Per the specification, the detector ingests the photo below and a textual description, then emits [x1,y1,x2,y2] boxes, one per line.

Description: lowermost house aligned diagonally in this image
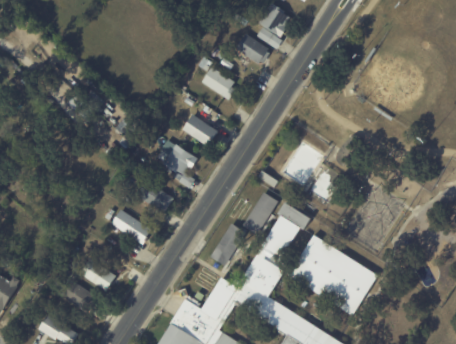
[40,316,76,344]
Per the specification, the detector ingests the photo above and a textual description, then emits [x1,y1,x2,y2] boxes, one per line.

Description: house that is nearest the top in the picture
[262,6,290,37]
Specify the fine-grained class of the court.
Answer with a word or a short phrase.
tennis court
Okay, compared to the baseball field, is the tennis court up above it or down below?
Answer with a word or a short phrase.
below it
